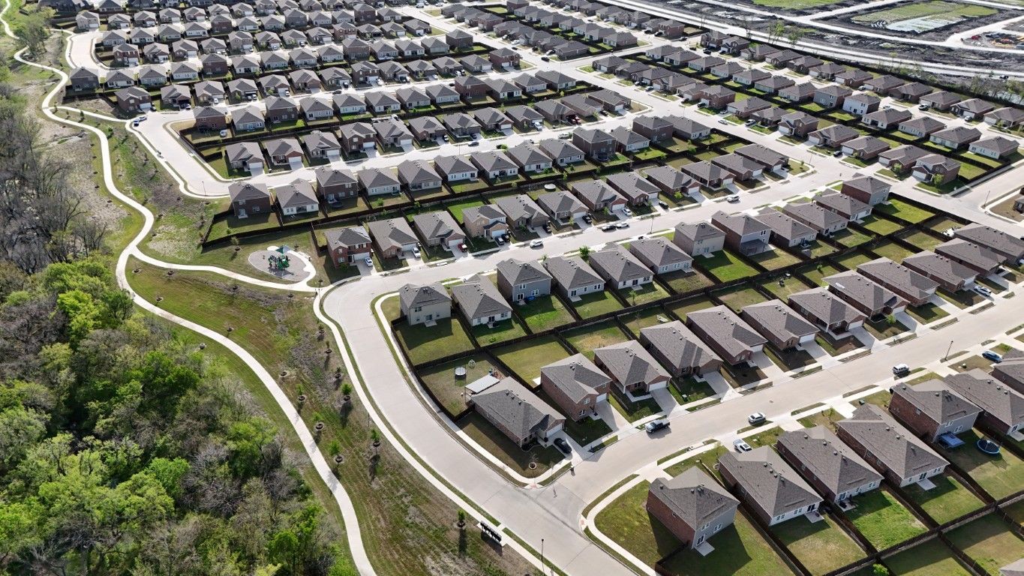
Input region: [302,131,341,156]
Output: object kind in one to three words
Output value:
house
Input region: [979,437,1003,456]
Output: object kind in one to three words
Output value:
trampoline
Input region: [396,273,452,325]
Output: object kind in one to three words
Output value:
house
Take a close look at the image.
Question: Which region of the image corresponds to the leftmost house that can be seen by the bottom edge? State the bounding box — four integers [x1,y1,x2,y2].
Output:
[660,460,746,551]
